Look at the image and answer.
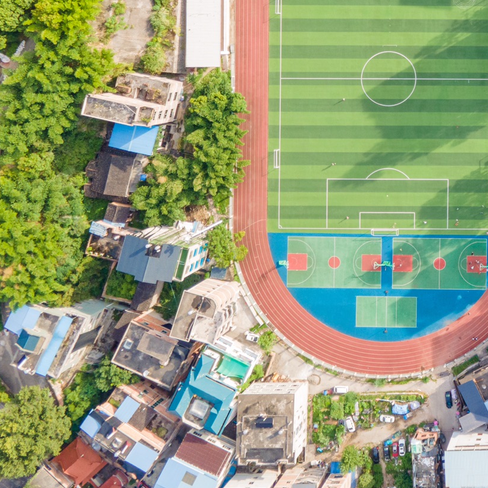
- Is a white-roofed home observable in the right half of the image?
Yes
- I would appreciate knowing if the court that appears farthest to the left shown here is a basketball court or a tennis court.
basketball court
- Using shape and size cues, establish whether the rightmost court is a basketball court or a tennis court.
basketball court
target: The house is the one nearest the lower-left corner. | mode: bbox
[27,461,77,488]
